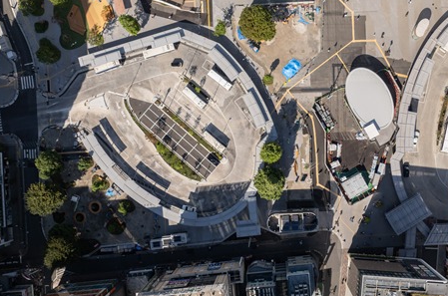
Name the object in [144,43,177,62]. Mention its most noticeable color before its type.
white vehicle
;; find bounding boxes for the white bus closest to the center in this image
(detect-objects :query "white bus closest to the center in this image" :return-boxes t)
[201,131,229,157]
